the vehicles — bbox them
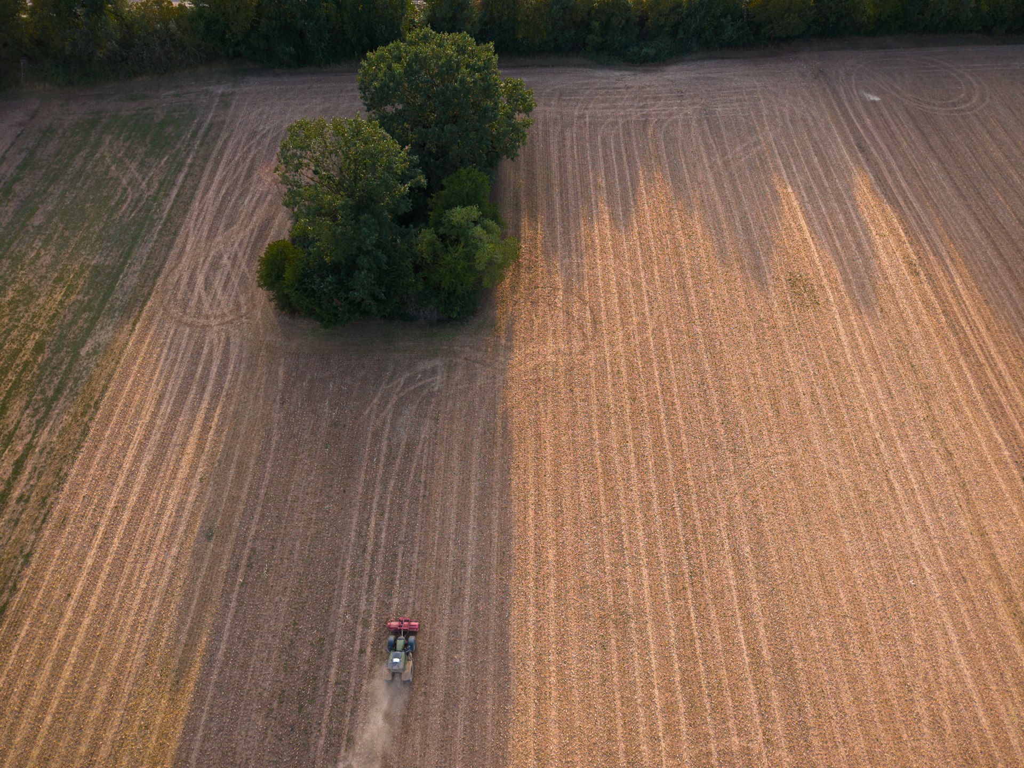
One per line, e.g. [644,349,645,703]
[379,615,417,685]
